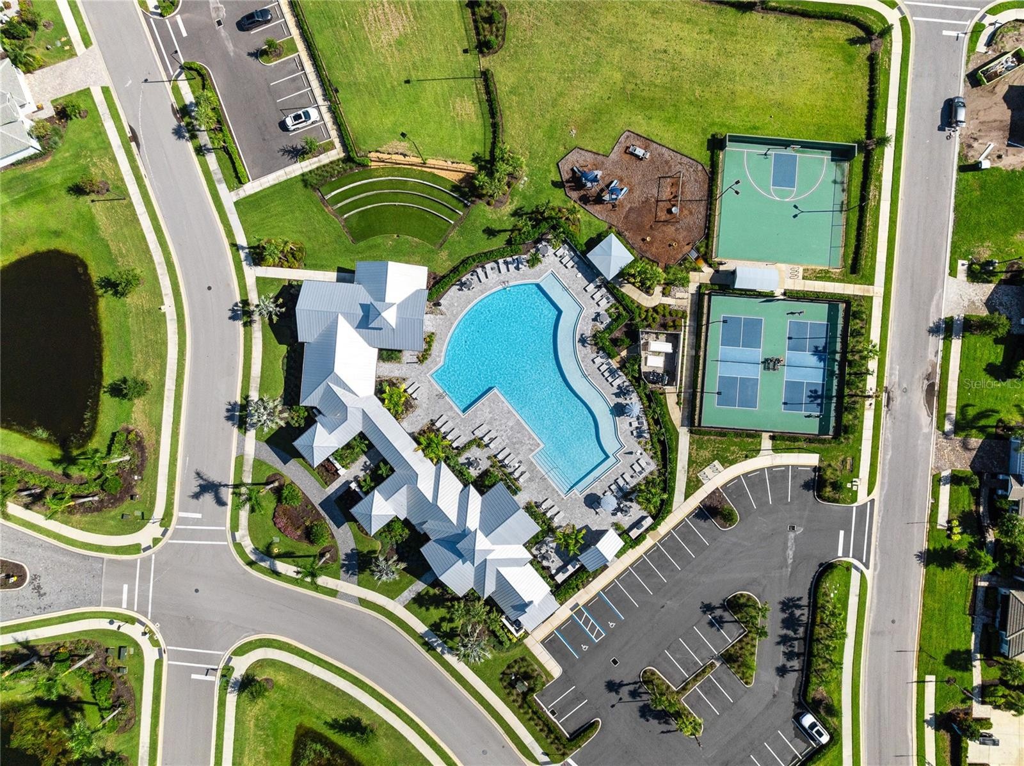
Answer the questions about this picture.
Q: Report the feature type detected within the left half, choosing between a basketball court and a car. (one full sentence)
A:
Visible within the left half is a car.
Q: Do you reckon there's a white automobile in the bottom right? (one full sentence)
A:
Yes, a white automobile appears in the bottom right.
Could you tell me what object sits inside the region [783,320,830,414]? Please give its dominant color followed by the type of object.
blue sports court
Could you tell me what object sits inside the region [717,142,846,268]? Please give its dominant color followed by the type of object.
green basketball court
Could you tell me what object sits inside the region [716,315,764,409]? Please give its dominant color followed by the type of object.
blue sports court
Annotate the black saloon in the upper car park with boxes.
[236,5,273,29]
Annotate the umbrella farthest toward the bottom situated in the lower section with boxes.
[600,494,617,510]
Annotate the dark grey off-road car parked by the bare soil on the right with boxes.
[949,93,970,128]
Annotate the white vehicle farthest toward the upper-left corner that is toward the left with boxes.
[281,105,319,129]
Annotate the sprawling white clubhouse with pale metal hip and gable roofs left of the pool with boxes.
[292,261,560,632]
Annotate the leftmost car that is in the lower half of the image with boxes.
[798,712,832,746]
